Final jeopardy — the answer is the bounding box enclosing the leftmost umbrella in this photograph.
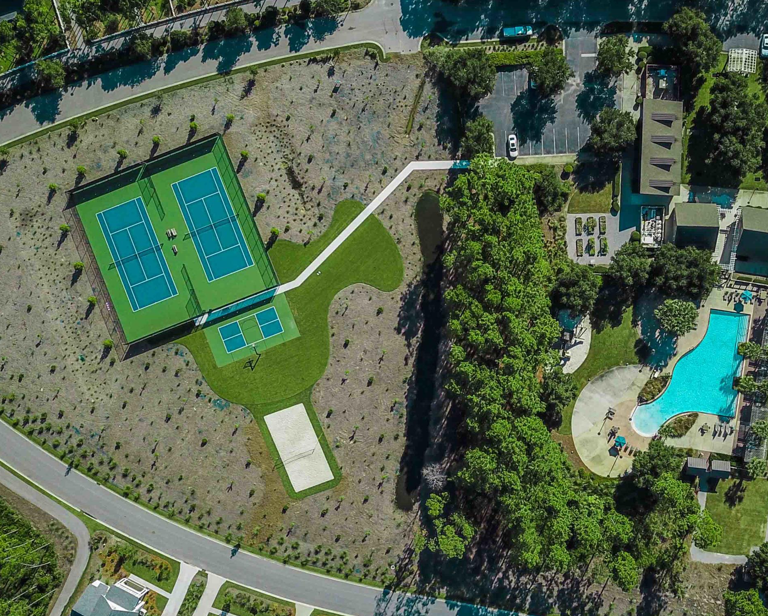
[613,435,627,448]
